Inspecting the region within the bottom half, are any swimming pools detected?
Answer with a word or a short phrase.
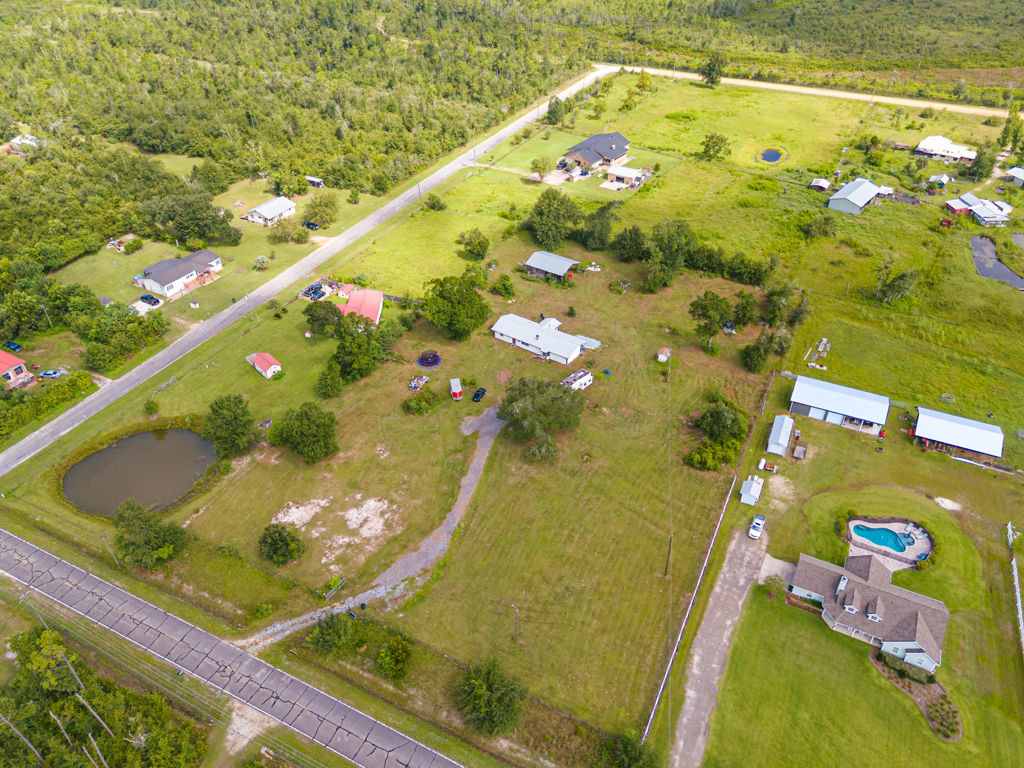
Yes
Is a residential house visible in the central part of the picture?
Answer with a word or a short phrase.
Yes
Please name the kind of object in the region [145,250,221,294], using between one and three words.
house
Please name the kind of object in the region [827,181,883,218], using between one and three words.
barn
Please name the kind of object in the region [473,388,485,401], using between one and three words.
vehicle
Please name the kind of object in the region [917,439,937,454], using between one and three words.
work vehicle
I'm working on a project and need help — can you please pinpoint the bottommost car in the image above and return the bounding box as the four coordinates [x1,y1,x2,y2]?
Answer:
[750,513,765,537]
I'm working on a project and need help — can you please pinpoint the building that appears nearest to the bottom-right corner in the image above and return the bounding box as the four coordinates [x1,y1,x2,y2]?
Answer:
[784,553,949,672]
